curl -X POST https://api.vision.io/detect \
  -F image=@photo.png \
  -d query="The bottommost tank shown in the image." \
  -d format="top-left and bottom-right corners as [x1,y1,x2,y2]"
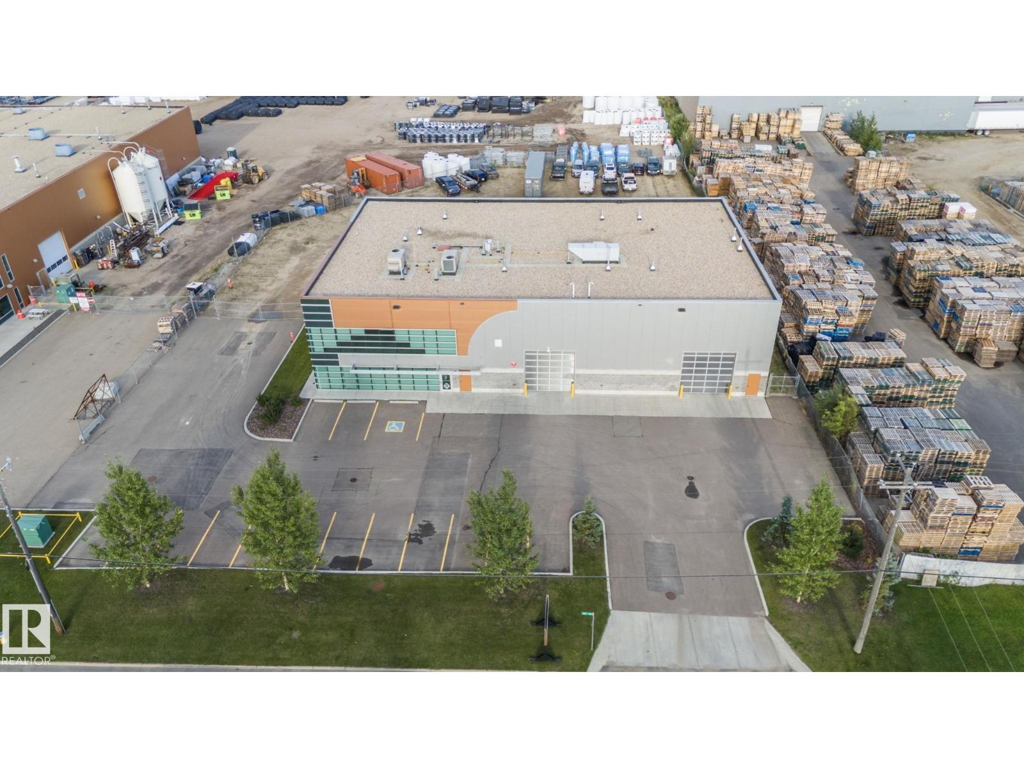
[221,227,263,256]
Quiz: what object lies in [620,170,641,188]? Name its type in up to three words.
vehicle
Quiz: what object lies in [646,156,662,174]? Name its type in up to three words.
car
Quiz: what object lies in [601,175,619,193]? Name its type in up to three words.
vehicle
